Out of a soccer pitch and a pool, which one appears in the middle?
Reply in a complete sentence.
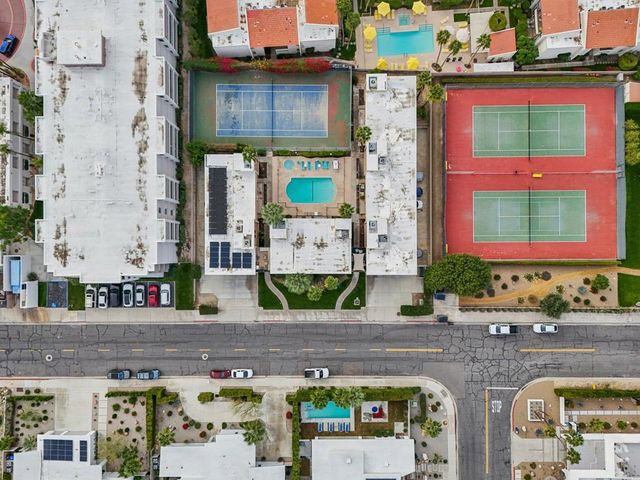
The one visible in the middle is a pool.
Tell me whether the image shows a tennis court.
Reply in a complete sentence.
Yes, there's a tennis court down there.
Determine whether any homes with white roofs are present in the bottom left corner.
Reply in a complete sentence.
Yes, there is a home with a white roof in the bottom left corner.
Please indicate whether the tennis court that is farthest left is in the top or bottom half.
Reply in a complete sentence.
It is in the top half that the tennis court that is farthest left appears.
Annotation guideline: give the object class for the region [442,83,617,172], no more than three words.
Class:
tennis court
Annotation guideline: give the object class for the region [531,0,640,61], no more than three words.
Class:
building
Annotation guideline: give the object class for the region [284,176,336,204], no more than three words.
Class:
swimming pool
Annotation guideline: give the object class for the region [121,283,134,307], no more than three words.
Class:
vehicle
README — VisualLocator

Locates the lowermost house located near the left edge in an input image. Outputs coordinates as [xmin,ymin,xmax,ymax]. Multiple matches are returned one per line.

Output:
[12,426,110,480]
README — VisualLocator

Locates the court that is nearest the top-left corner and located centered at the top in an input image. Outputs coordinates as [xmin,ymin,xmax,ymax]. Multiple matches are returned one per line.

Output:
[192,69,353,151]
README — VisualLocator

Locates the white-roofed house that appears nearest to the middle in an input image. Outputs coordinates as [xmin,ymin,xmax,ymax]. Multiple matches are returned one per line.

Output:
[271,219,352,274]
